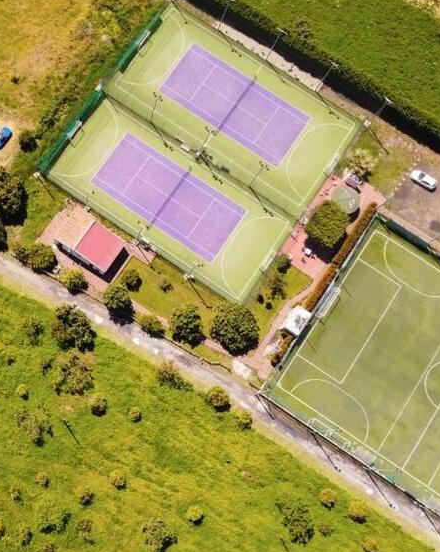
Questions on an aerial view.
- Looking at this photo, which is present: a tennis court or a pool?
tennis court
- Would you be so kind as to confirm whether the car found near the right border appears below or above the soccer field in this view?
above it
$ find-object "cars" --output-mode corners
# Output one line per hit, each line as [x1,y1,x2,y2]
[409,171,439,191]
[0,126,11,150]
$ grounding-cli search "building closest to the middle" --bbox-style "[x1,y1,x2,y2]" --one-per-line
[280,305,313,337]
